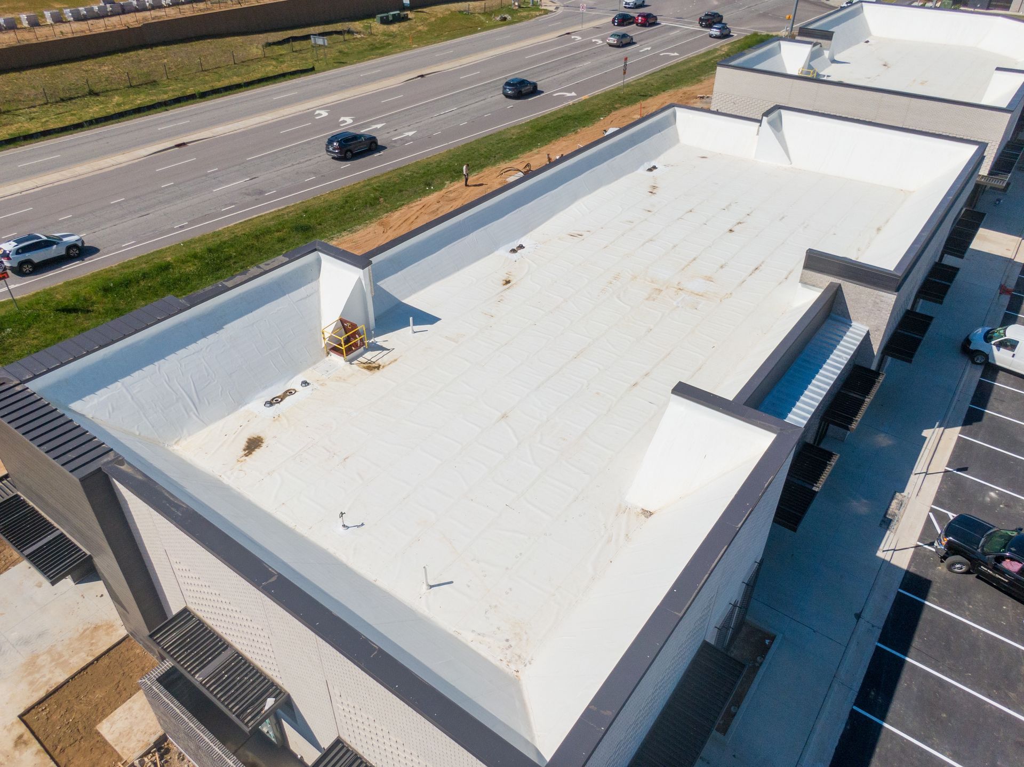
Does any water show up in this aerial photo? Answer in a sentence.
No, no water is visible.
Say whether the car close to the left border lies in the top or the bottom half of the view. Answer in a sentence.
The car close to the left border is in the top half of the image.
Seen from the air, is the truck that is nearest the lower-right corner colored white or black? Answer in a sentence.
From above, the truck that is nearest the lower-right corner appears black.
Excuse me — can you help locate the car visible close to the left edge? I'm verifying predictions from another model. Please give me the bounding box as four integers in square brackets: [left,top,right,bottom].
[0,233,86,273]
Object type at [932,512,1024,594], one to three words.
truck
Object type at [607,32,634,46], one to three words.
car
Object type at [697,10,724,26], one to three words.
vehicle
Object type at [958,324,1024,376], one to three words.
van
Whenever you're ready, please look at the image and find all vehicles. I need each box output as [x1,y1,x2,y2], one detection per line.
[710,22,731,37]
[636,13,659,27]
[623,0,646,8]
[324,130,380,158]
[958,324,1024,376]
[697,10,724,26]
[501,77,538,98]
[0,233,86,273]
[607,32,634,46]
[932,512,1024,594]
[611,13,636,26]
